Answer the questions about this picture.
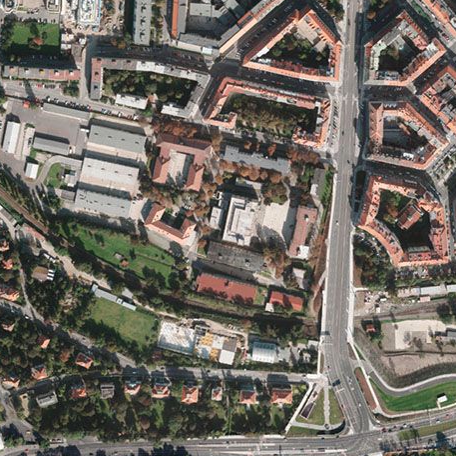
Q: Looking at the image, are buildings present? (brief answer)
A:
Yes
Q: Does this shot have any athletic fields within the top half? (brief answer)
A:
No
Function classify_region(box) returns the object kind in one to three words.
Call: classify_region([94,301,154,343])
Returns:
sports field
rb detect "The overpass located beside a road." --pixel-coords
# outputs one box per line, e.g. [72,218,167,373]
[322,233,358,387]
